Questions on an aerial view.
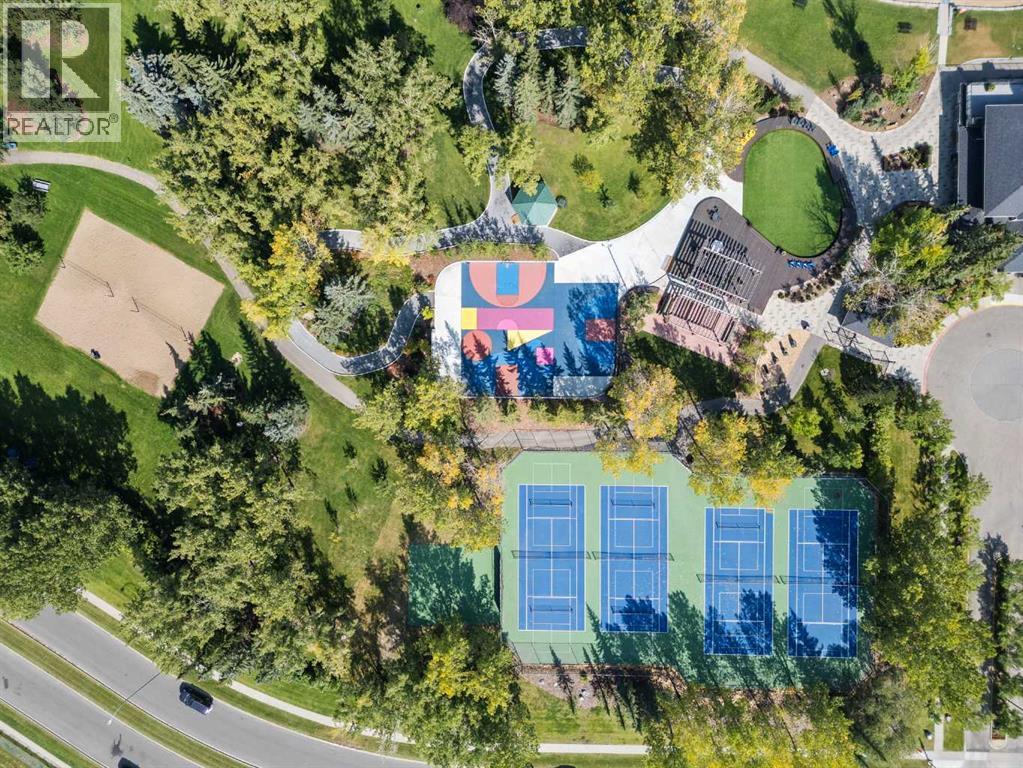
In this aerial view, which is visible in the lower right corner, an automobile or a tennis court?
tennis court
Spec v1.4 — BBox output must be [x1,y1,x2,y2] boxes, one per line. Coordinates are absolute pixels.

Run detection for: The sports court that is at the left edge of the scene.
[35,208,225,398]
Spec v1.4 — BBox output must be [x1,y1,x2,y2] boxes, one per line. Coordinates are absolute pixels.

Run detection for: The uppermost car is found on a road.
[180,690,213,715]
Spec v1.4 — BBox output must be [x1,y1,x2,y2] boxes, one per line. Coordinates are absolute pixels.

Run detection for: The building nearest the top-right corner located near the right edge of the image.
[949,76,1023,224]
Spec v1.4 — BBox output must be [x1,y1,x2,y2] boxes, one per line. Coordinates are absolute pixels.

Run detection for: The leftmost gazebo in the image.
[512,181,560,224]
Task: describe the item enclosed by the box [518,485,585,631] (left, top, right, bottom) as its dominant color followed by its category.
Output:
blue tennis court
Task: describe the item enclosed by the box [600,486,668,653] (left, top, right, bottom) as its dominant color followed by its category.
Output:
blue tennis court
